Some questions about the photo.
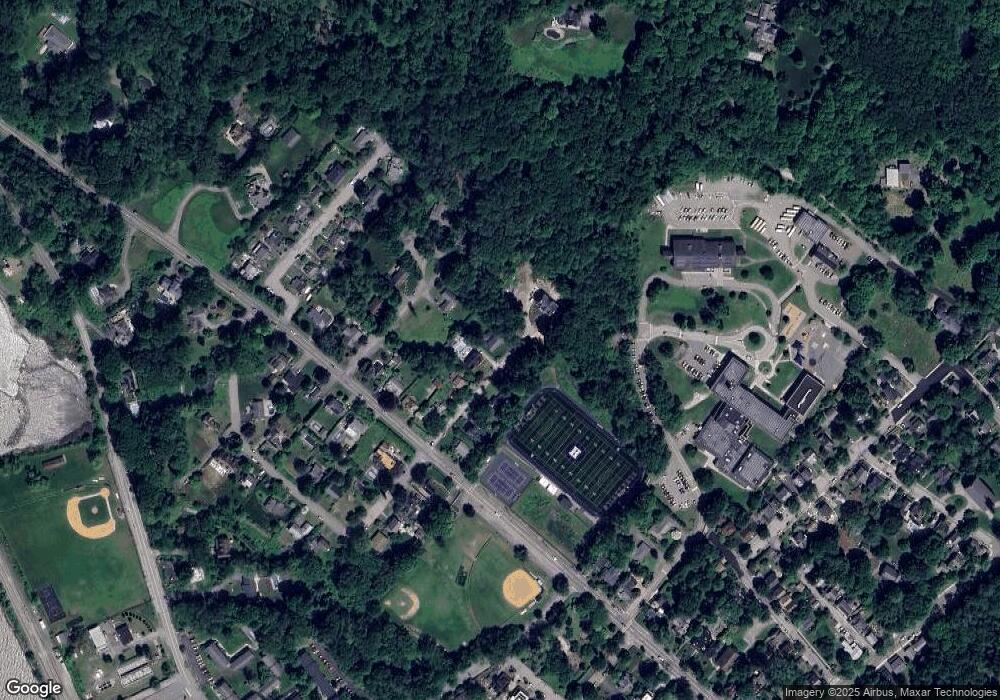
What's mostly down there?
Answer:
trees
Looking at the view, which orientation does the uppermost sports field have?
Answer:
on a diagonal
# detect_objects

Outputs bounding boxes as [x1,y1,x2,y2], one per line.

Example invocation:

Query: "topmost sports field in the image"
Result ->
[511,393,639,513]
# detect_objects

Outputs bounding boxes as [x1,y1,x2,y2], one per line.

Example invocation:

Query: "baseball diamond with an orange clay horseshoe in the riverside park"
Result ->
[66,488,115,538]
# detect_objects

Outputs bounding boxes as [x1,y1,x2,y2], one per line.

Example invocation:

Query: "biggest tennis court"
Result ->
[480,452,533,506]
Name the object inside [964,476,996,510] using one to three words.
building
